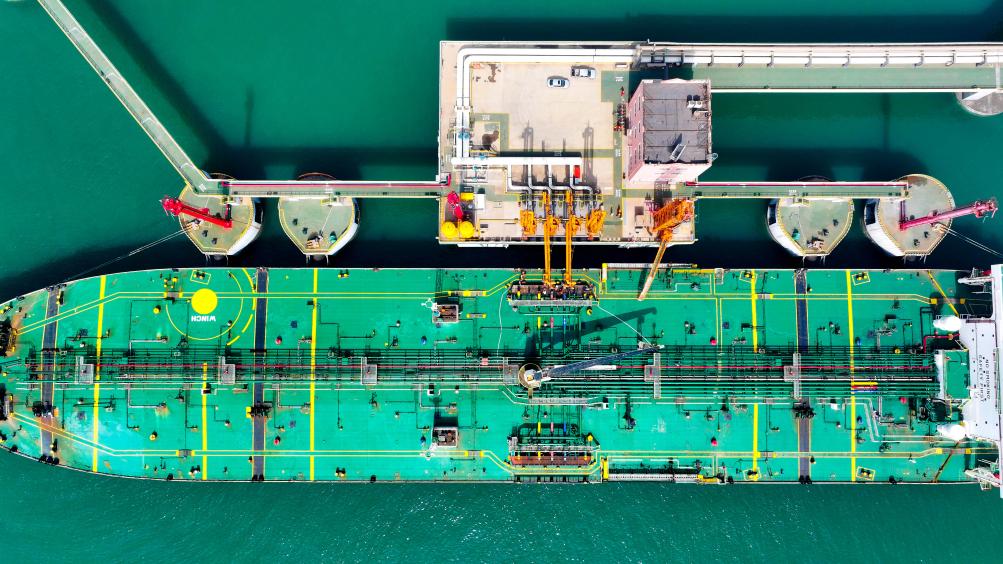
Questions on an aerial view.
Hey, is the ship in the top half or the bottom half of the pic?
bottom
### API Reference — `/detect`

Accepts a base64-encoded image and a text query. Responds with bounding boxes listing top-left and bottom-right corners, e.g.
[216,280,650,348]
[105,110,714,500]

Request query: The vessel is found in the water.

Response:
[0,262,1003,498]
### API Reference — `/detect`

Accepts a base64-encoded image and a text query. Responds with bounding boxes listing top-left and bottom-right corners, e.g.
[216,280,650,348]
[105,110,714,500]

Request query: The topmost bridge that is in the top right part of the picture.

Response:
[637,41,1003,94]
